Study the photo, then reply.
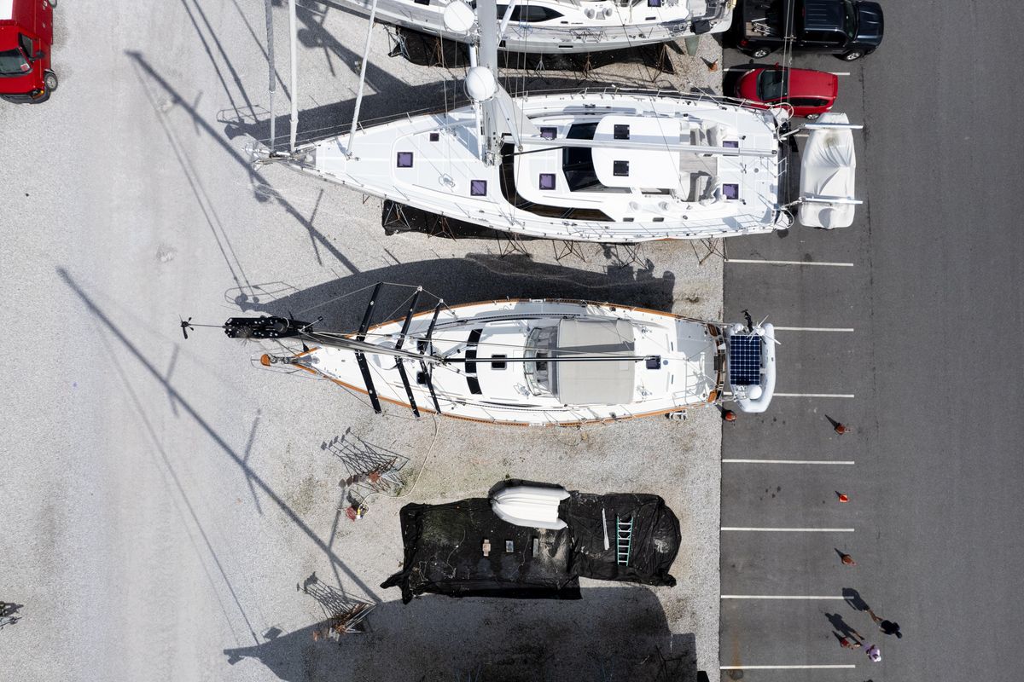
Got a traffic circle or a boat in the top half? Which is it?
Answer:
boat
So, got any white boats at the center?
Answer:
Yes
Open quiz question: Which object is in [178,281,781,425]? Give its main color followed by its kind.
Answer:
white boat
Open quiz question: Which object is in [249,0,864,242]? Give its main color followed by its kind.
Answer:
white boat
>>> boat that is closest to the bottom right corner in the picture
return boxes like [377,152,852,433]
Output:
[723,309,779,415]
